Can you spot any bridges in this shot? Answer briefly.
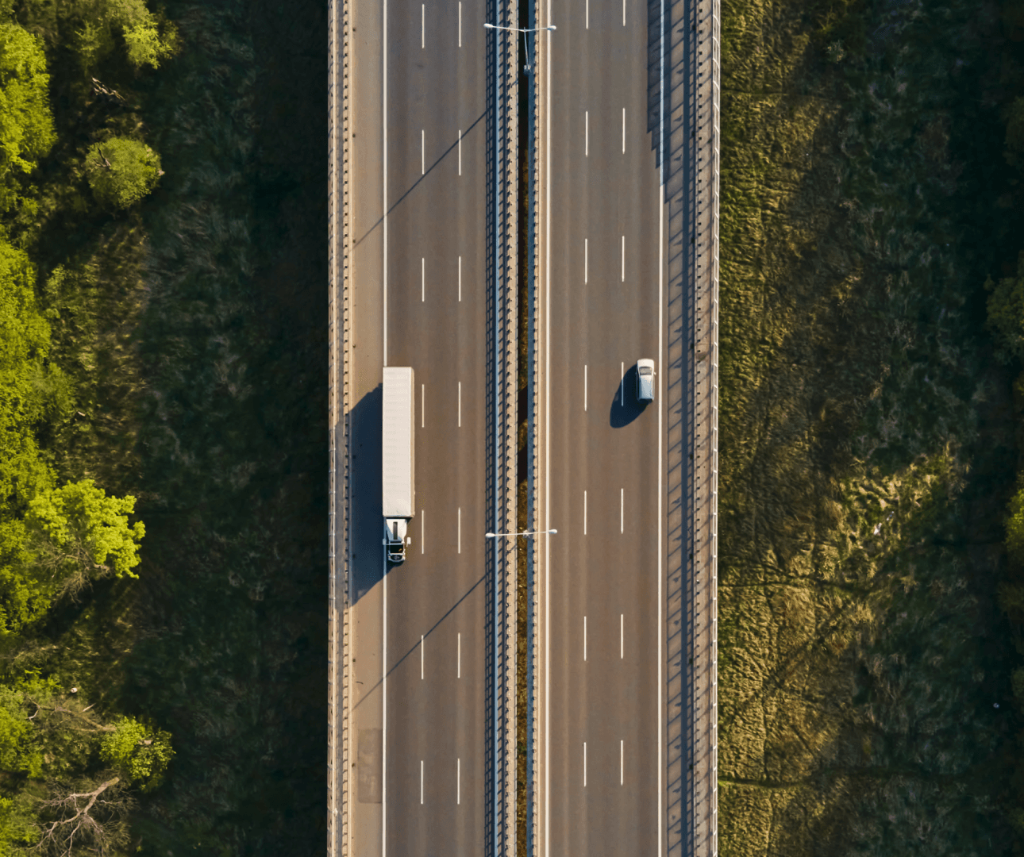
Yes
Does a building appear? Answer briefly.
No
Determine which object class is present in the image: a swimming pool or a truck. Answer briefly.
truck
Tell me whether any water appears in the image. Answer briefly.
No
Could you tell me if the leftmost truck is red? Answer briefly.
No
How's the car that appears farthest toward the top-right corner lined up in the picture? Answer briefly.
from top to bottom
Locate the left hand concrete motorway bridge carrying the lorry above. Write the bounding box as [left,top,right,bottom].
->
[327,0,520,857]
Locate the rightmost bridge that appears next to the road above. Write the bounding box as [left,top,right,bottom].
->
[526,0,721,857]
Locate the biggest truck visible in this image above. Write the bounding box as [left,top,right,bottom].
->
[383,366,415,563]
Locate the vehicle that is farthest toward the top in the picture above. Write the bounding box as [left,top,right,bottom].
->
[635,359,657,402]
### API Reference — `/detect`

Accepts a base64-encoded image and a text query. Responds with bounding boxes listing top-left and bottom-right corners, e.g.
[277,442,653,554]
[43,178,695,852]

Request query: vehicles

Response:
[635,359,657,402]
[383,366,415,563]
